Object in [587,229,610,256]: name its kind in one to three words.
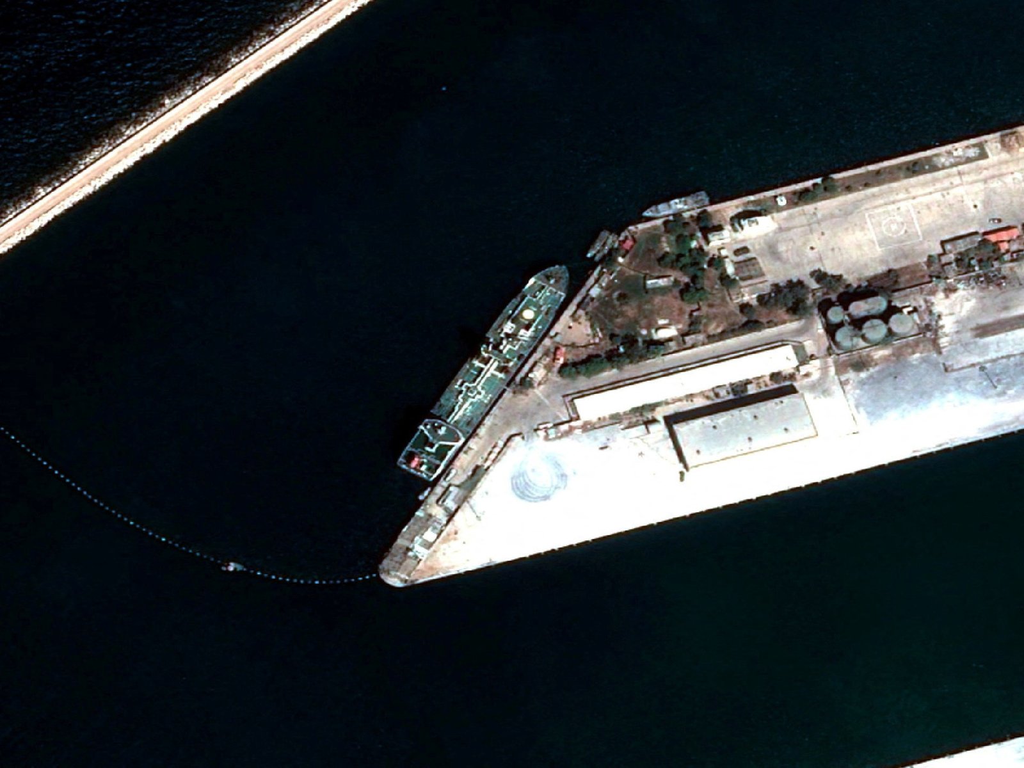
boat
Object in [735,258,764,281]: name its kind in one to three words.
building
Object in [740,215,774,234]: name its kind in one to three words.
building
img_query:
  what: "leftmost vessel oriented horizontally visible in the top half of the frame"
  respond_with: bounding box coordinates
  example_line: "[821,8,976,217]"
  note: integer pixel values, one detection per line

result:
[642,191,709,217]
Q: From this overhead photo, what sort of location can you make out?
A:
port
